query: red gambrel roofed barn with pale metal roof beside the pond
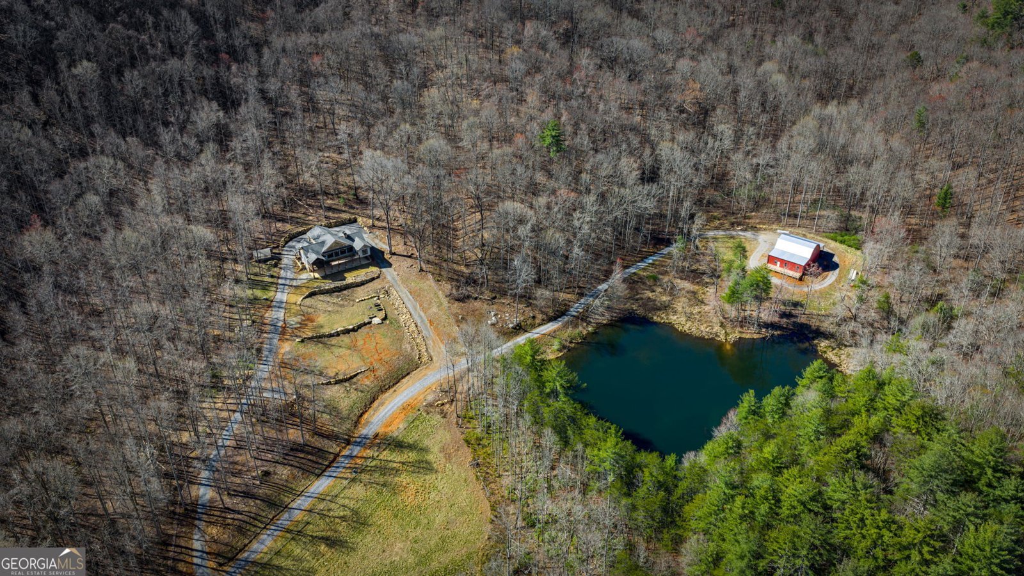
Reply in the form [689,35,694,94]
[767,233,821,280]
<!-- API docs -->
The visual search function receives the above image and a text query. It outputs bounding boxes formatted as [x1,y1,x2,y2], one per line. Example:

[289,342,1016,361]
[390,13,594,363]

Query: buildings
[298,223,372,278]
[251,247,273,264]
[767,233,821,280]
